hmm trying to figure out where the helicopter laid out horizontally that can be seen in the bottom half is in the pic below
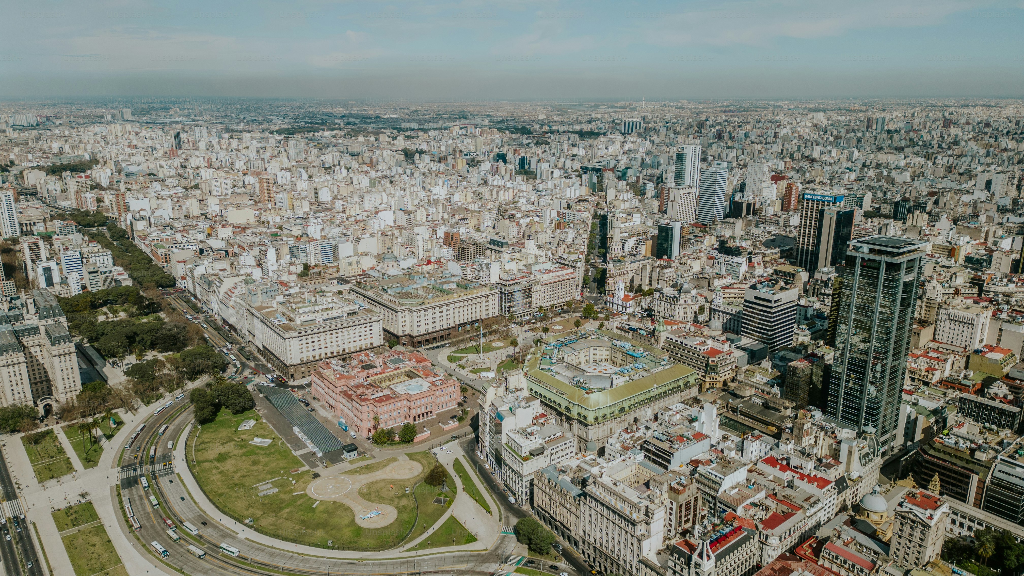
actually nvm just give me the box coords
[360,503,387,517]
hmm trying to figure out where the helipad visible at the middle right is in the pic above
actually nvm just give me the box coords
[859,238,916,250]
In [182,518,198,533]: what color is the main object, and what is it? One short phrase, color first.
white vehicle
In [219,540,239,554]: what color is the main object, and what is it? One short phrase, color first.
white vehicle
